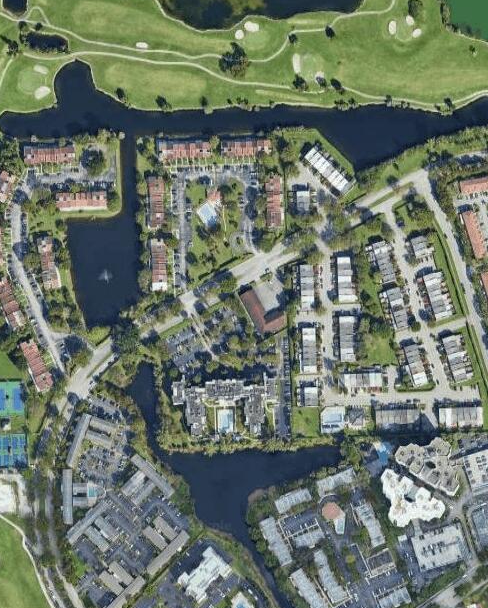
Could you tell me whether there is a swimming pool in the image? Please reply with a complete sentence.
Yes, I can see a swimming pool in this picture.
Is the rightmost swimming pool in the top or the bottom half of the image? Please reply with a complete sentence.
Seen from above, the rightmost swimming pool lies in the bottom half of the view.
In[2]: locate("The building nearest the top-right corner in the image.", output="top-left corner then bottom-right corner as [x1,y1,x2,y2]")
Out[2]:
[459,175,488,197]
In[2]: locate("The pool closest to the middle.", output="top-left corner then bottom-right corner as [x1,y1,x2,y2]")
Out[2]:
[197,200,222,228]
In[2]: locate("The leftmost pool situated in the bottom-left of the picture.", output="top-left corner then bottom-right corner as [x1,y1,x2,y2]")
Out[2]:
[88,482,106,505]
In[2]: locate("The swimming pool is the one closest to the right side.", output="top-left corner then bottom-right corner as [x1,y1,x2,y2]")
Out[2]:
[372,439,394,466]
